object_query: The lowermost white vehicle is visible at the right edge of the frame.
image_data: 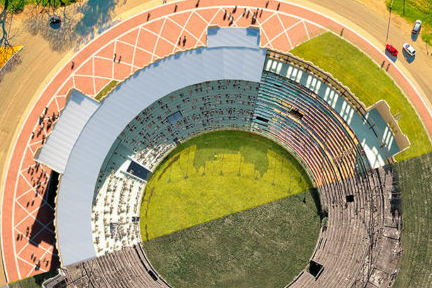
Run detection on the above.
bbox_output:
[401,42,415,57]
